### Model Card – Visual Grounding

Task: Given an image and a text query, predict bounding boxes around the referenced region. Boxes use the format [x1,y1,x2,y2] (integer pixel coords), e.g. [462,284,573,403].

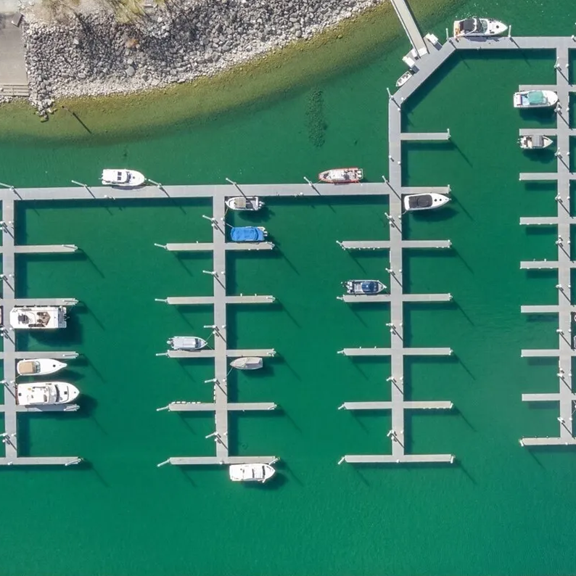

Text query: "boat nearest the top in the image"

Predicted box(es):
[452,18,508,39]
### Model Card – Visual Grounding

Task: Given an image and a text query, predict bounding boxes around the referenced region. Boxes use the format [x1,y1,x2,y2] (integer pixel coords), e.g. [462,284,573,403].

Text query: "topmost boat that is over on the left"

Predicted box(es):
[100,170,151,187]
